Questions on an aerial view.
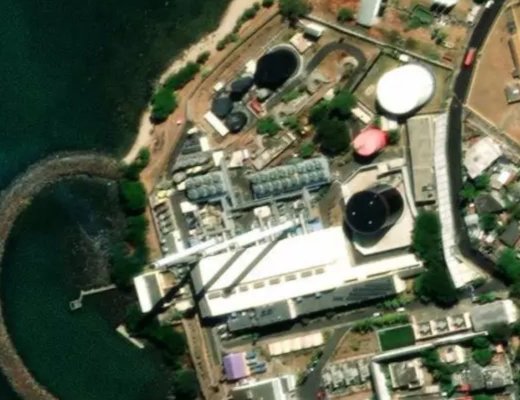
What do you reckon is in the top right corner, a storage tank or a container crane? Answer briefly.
storage tank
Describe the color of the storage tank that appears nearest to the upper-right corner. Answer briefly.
white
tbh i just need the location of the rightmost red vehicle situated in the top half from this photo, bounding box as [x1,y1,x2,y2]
[463,48,476,66]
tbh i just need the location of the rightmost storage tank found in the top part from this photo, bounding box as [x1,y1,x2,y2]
[378,60,437,115]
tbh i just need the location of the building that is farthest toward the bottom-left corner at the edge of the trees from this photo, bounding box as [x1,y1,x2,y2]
[134,271,171,313]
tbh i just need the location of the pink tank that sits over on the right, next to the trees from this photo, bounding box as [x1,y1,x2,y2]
[354,125,389,156]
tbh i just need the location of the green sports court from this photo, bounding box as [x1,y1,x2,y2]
[377,323,416,352]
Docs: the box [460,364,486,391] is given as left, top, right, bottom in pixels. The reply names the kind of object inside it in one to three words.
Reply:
house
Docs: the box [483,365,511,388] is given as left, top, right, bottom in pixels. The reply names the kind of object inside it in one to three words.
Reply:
house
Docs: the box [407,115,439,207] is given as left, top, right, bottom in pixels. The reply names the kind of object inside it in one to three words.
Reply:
building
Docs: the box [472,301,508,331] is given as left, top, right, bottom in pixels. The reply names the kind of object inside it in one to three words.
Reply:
building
